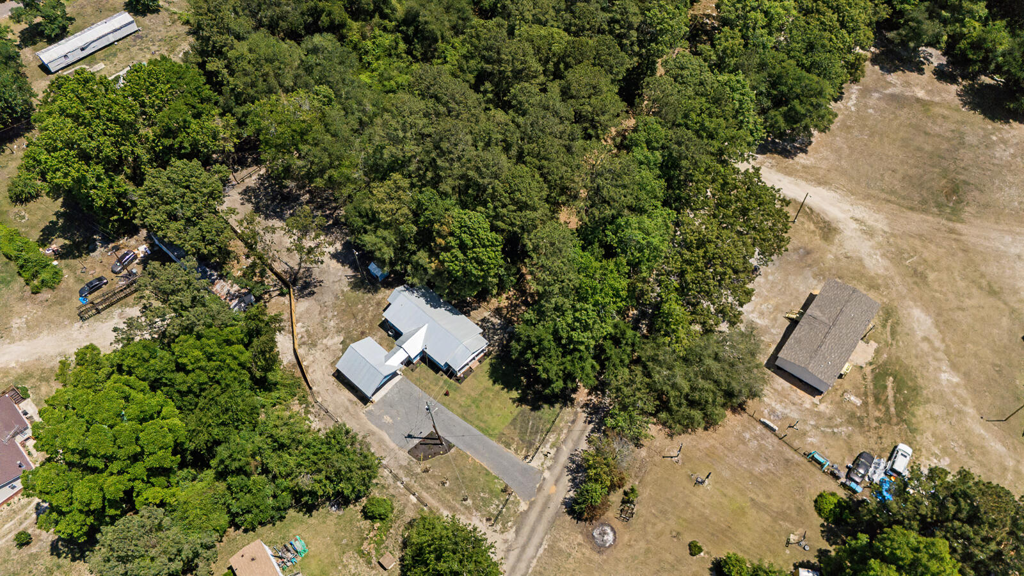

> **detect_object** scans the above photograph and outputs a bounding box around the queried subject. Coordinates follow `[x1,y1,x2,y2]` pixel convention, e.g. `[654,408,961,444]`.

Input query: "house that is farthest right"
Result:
[775,278,881,397]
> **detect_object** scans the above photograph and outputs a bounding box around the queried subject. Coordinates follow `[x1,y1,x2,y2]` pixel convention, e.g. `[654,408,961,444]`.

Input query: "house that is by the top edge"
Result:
[36,12,144,73]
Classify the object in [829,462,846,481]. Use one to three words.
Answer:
work vehicle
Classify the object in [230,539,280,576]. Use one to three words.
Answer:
house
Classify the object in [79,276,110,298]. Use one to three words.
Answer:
car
